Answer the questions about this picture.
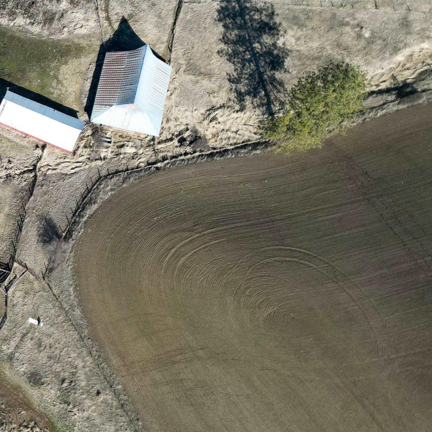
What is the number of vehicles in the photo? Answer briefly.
none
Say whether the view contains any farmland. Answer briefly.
Yes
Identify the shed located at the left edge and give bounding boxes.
[0,90,86,155]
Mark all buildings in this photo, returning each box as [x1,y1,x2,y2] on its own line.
[90,44,171,137]
[0,90,86,155]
